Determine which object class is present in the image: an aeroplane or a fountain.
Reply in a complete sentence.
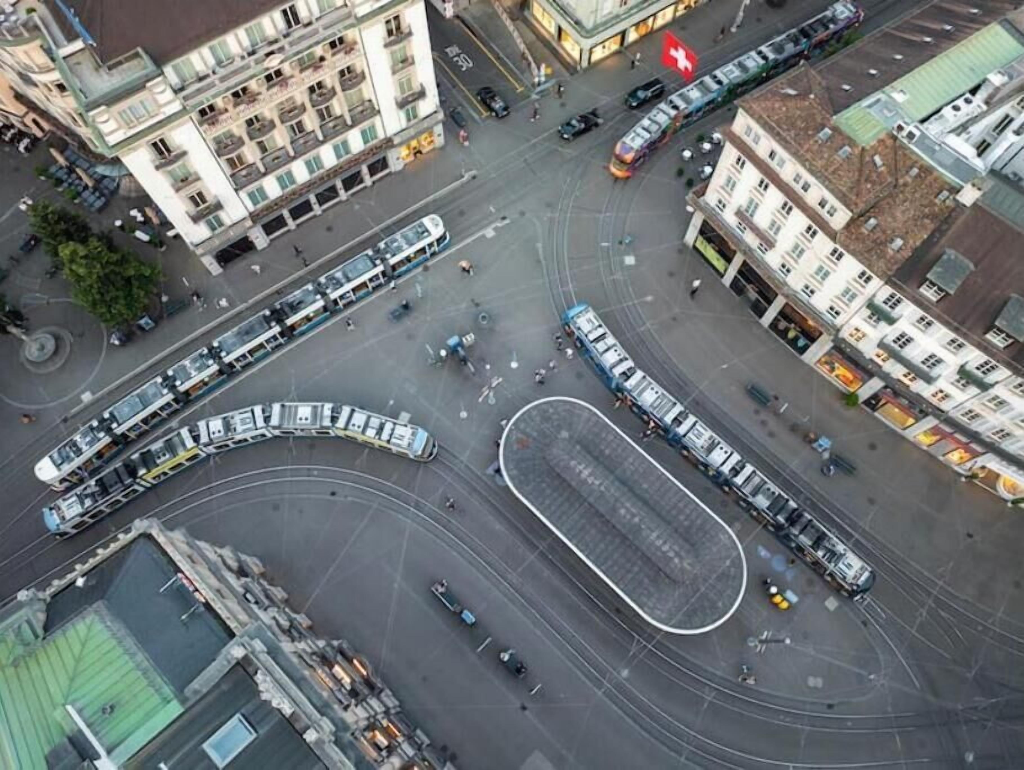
Looking from above, you can make out a fountain.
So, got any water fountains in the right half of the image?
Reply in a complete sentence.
No, there is no water fountain in the right half of the image.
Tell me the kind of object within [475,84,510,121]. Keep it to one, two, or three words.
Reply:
car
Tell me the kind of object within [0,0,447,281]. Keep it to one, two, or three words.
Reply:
building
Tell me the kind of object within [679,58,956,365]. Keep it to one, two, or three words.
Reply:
house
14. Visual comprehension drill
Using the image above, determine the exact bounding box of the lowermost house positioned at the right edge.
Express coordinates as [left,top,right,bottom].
[910,380,1024,516]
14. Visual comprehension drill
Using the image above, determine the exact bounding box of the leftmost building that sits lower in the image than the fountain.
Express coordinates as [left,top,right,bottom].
[0,511,462,770]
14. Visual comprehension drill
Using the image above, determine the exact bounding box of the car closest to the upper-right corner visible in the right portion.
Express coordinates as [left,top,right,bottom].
[624,76,667,110]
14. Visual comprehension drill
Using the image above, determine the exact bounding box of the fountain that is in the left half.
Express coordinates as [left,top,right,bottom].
[5,324,68,371]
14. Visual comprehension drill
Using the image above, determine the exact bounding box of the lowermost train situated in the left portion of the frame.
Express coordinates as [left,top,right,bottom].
[58,400,441,533]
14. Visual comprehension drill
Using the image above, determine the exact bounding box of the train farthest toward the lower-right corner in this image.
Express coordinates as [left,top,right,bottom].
[560,308,871,590]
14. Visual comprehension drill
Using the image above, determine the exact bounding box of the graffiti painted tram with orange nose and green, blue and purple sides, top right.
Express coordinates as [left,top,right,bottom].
[609,4,859,188]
